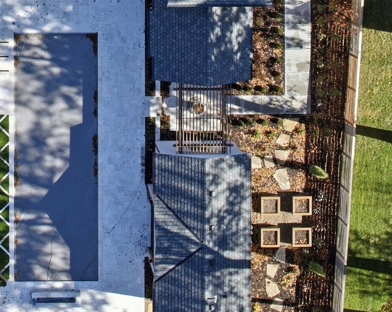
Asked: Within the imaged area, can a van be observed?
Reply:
No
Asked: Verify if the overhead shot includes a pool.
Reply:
Yes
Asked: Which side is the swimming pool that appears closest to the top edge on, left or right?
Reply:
left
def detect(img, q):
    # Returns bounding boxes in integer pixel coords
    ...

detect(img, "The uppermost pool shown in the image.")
[10,33,98,285]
